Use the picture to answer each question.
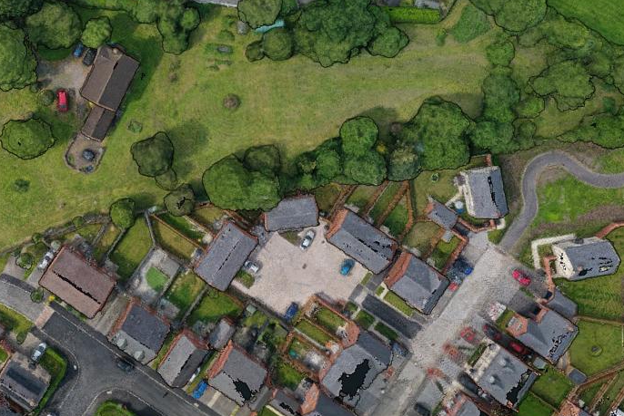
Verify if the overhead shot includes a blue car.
Yes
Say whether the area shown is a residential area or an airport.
residential area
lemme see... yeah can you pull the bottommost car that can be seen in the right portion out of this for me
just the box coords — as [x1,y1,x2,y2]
[412,402,433,416]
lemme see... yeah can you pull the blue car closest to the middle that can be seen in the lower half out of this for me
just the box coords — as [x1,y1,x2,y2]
[339,256,354,279]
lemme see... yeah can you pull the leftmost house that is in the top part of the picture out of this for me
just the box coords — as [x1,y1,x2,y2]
[81,44,141,140]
